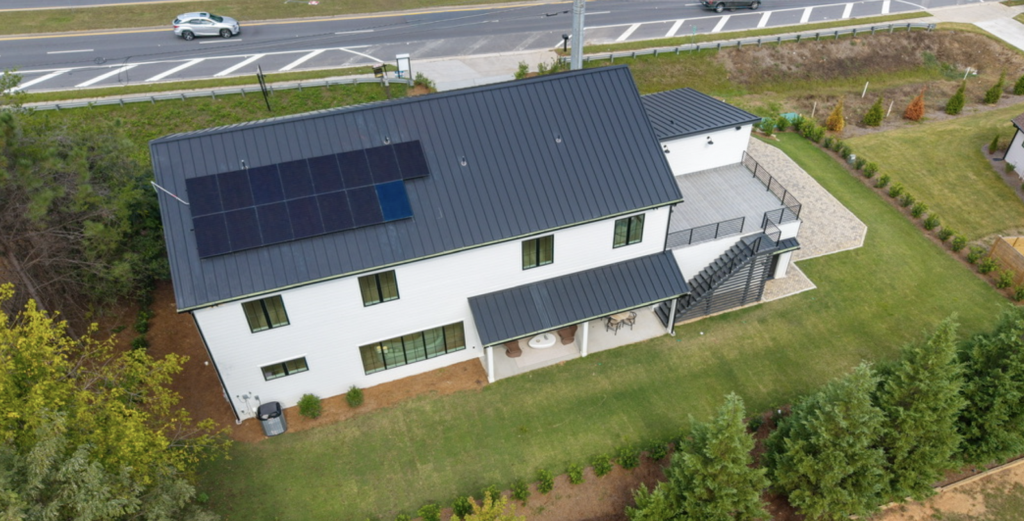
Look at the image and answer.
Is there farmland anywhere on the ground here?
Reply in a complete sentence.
No, there is no farmland in the image.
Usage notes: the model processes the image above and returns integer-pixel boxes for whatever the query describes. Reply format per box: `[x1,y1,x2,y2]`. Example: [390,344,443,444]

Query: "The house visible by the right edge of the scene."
[996,109,1024,172]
